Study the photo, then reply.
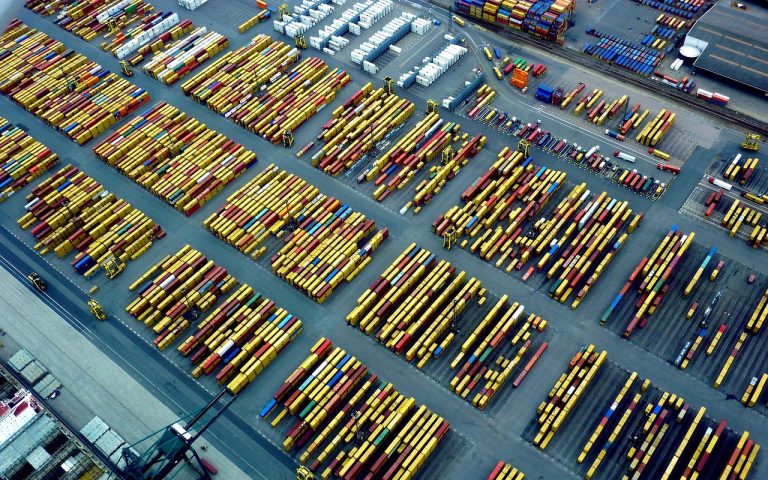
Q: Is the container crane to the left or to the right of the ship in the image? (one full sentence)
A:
The container crane appears to the right of the ship in this view.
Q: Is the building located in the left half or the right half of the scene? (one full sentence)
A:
The building appears in the right half of the scene.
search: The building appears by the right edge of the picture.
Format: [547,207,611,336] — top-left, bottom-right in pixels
[682,1,768,100]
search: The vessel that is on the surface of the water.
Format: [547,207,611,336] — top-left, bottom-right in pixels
[0,368,117,480]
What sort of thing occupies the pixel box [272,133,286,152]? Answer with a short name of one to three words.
work vehicle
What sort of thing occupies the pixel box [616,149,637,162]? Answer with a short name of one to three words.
vehicle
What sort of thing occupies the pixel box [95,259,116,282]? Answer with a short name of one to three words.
work vehicle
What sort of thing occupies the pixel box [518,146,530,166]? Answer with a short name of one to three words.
vehicle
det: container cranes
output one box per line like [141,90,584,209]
[106,383,245,480]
